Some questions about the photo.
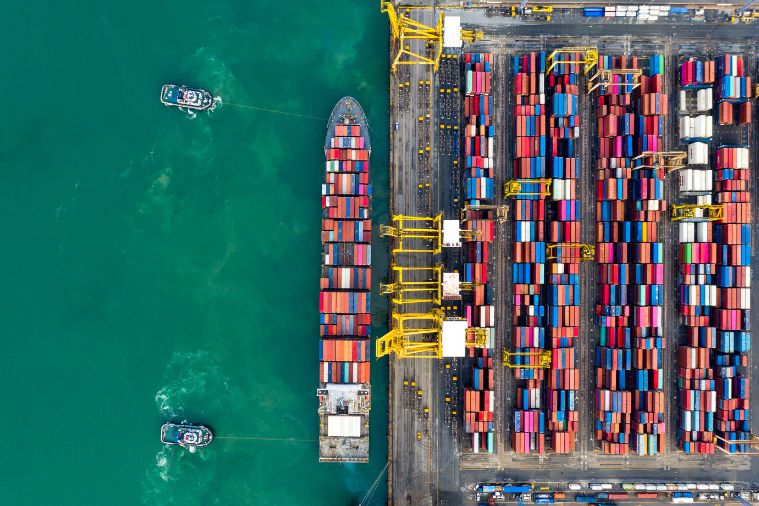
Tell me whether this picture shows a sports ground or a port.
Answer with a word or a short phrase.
port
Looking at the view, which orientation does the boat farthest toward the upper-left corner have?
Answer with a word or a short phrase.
horizontally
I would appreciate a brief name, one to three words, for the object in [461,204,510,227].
container crane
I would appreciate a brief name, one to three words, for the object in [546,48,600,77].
container crane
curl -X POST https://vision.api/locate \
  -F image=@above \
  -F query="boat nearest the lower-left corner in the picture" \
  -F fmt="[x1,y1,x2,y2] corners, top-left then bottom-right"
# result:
[160,422,213,447]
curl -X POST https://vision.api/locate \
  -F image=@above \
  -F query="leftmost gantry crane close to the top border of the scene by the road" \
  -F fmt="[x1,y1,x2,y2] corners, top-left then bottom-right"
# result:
[380,0,477,74]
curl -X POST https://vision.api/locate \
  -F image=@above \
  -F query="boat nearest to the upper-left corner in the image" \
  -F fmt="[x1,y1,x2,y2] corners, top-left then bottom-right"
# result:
[160,83,213,111]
